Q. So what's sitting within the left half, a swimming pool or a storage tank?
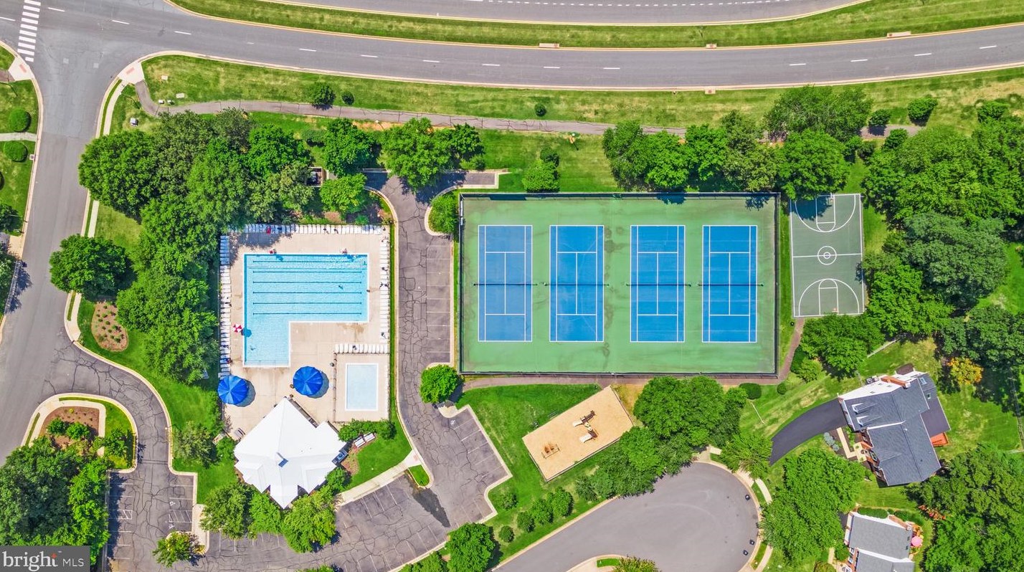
swimming pool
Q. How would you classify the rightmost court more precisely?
basketball court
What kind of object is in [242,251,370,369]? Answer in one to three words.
swimming pool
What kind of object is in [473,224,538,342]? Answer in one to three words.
tennis court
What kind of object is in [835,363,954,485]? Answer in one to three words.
house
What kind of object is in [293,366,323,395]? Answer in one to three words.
umbrella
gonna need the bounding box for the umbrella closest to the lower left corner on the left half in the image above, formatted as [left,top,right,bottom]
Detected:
[219,375,249,404]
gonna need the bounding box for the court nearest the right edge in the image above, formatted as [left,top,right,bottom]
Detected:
[789,193,865,318]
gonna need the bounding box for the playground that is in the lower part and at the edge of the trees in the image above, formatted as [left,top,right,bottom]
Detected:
[520,384,631,482]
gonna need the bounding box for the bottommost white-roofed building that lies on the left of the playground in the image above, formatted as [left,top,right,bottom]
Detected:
[234,398,347,508]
